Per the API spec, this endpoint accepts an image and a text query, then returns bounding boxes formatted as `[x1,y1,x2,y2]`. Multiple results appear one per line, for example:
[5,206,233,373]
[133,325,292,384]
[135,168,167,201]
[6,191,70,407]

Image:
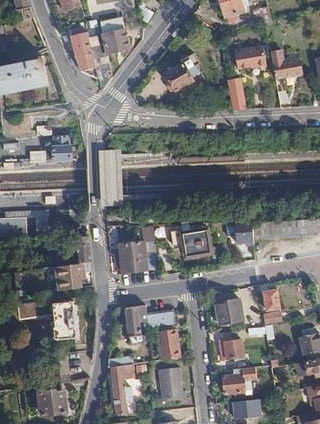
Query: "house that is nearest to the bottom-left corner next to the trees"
[37,387,69,417]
